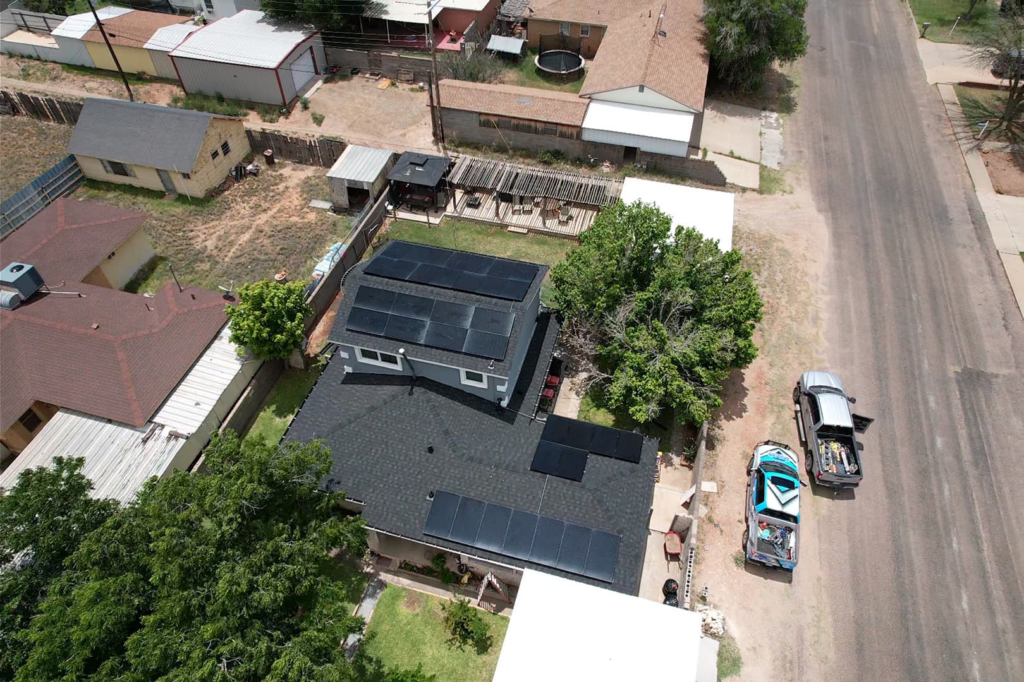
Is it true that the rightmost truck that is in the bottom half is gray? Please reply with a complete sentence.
Yes, the rightmost truck that is in the bottom half is gray.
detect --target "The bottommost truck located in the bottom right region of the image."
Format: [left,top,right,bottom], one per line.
[742,440,808,576]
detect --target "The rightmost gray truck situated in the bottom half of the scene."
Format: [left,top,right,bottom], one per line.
[795,373,881,495]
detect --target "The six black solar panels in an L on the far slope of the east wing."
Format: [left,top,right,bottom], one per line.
[529,416,644,481]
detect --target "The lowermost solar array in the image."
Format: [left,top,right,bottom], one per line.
[424,491,621,583]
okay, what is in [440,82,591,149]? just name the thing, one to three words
building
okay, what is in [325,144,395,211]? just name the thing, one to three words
shed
